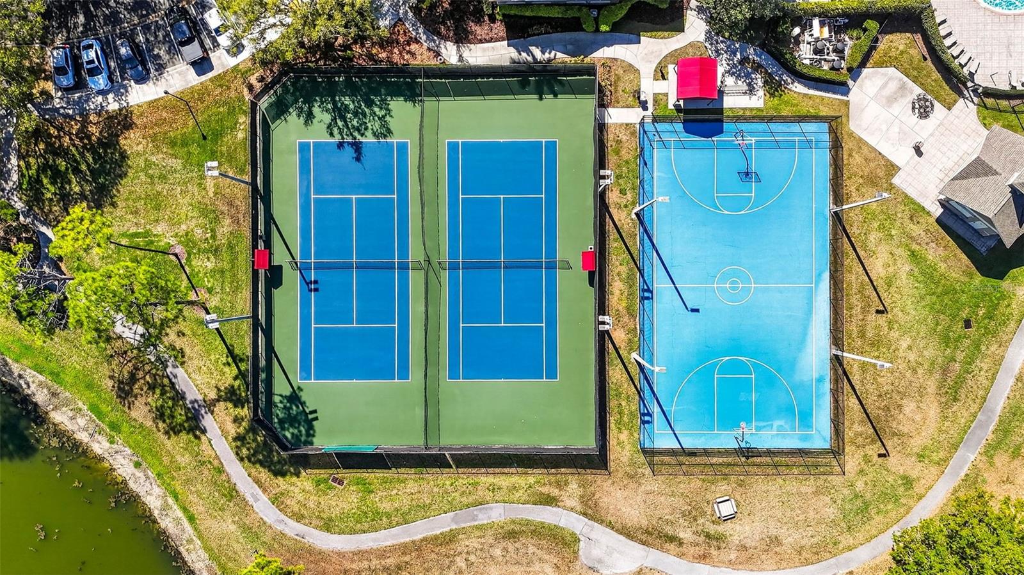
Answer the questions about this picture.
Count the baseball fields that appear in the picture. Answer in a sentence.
Not a single baseball field can be seen.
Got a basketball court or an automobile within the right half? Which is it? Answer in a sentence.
Visible within the right half is a basketball court.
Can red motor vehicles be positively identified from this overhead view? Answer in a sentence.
No, I can't see a single red motor vehicle in this photo.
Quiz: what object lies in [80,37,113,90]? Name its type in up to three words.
car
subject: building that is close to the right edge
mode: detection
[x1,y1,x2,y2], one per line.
[926,123,1024,248]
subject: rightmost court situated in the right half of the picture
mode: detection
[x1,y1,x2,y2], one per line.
[641,122,830,449]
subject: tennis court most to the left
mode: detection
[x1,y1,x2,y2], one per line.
[260,75,426,446]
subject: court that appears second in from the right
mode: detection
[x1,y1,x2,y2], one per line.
[426,75,594,446]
